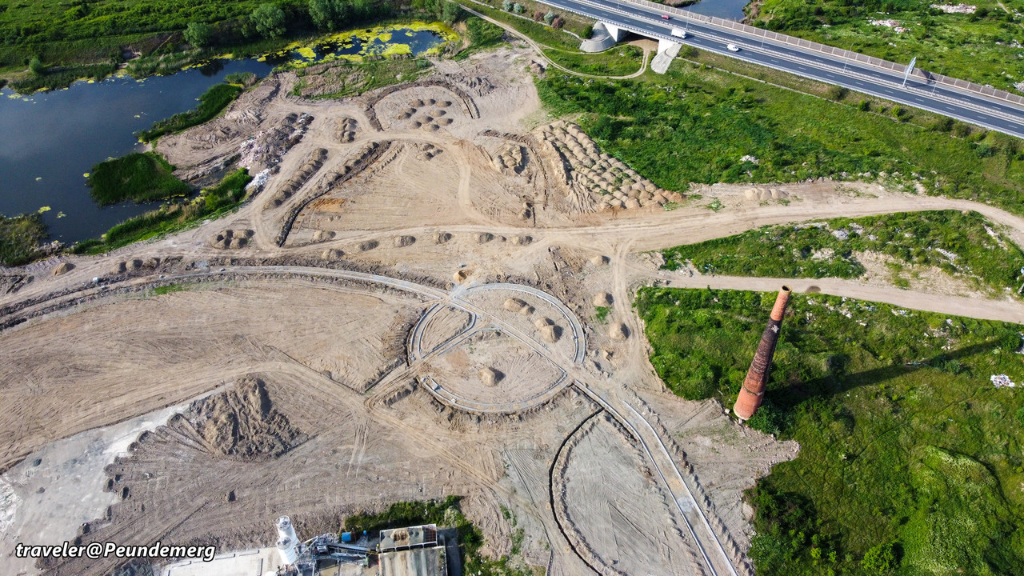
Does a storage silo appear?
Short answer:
Yes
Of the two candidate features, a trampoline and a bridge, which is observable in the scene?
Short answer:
bridge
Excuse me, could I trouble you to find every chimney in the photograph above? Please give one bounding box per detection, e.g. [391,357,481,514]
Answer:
[736,289,794,415]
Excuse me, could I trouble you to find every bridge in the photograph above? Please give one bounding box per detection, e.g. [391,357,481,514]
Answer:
[603,21,683,55]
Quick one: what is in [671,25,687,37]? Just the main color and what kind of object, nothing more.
white vehicle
